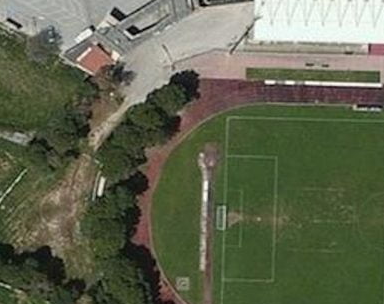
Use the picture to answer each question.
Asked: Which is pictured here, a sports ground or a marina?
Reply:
sports ground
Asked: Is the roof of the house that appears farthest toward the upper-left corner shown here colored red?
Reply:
Yes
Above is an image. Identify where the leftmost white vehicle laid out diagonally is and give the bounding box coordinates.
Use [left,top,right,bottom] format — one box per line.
[74,27,93,42]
